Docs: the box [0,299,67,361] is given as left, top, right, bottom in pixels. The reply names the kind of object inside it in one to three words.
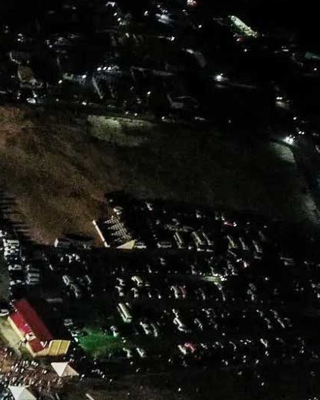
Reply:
house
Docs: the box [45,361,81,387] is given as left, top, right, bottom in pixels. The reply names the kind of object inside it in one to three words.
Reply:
tent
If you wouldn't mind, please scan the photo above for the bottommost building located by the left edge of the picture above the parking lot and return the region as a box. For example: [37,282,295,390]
[9,58,46,85]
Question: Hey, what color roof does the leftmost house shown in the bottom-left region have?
red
